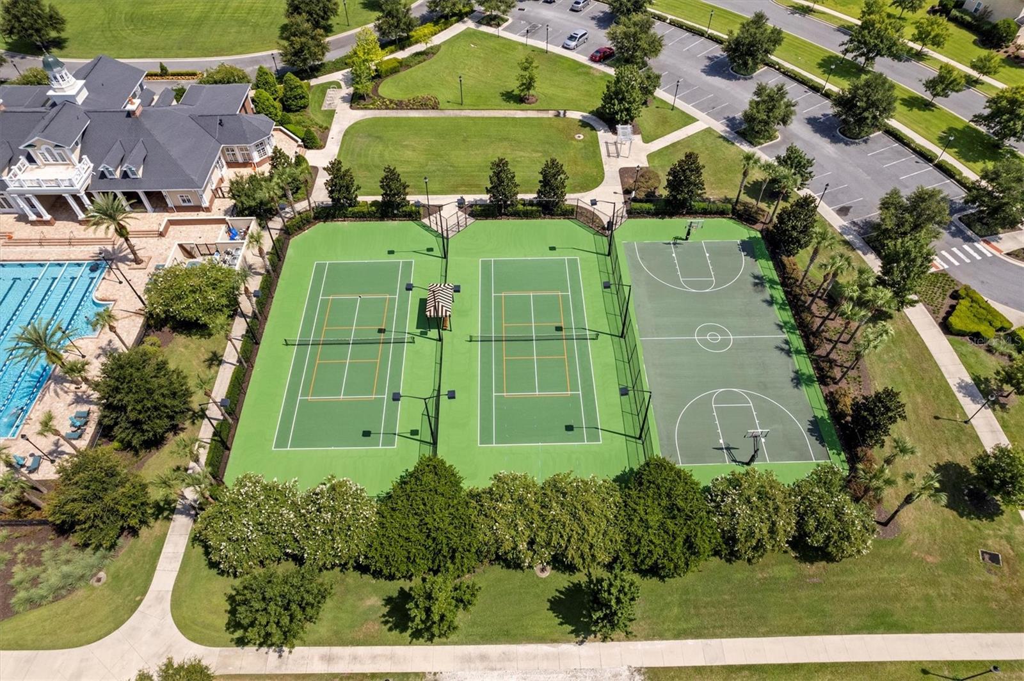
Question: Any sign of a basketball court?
Yes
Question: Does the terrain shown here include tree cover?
Yes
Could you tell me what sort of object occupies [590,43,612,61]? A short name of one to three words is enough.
car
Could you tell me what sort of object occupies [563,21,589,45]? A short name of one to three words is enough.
car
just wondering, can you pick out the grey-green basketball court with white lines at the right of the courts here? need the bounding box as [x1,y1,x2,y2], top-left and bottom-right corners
[607,218,849,491]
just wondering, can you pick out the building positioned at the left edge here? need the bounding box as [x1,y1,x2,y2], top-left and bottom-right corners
[0,35,278,219]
